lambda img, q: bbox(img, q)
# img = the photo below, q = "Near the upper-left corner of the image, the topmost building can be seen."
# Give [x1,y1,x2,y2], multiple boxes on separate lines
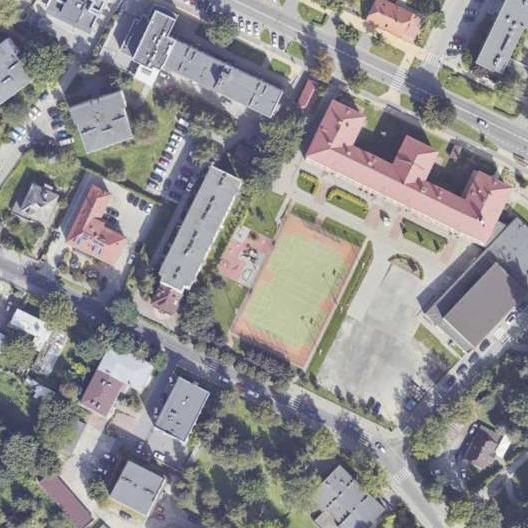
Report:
[45,0,110,35]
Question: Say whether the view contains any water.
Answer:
No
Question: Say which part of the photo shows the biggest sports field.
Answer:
center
